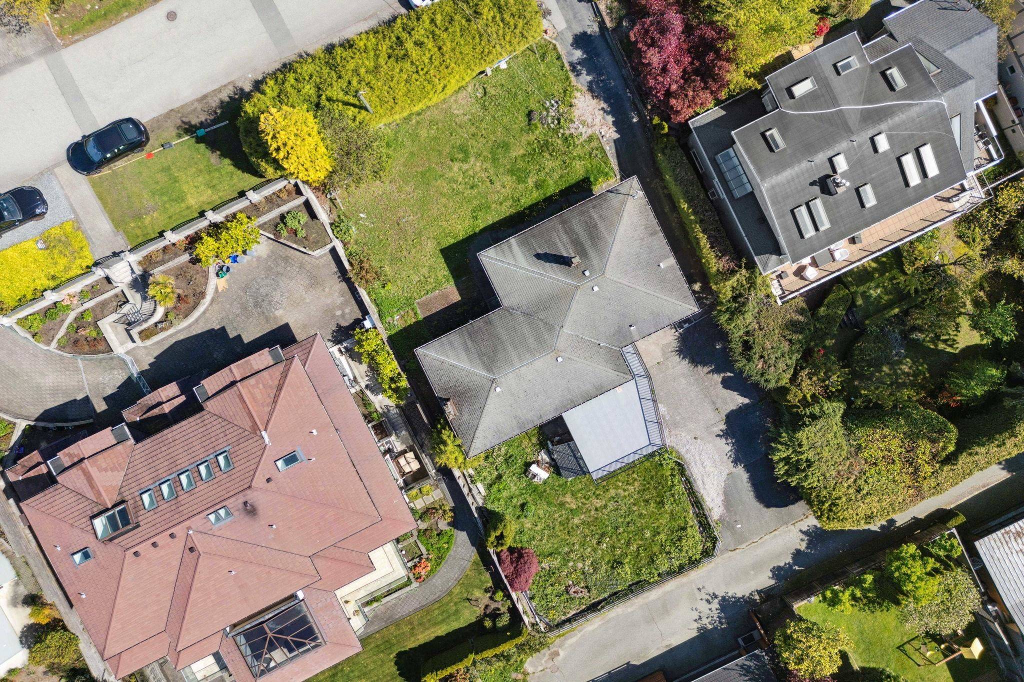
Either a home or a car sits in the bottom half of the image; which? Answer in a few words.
home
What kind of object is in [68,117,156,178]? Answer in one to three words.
car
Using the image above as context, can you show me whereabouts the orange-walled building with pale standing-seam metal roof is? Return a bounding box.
[963,513,1024,663]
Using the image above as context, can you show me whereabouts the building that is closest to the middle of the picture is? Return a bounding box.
[413,174,703,461]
